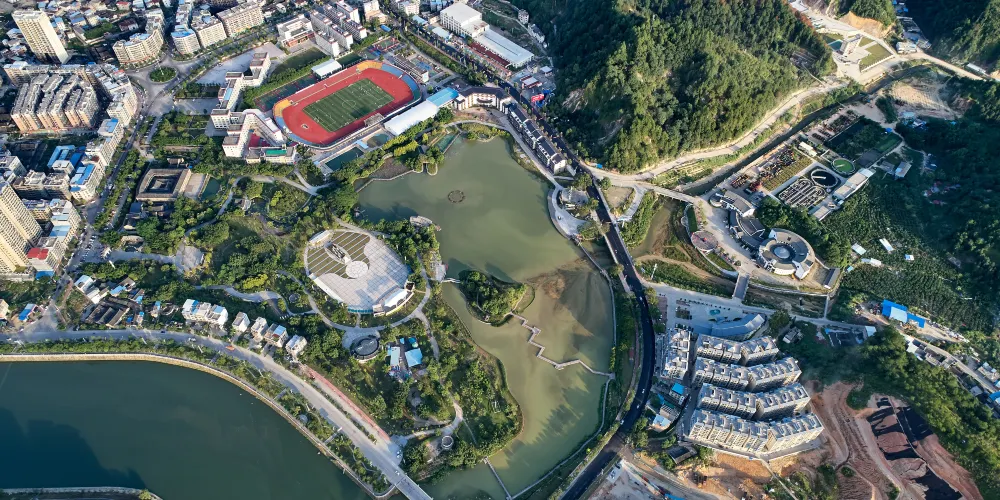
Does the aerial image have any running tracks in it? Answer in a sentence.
Yes, the picture does show a running track.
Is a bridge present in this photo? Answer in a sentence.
Yes, you can see a bridge in this photo.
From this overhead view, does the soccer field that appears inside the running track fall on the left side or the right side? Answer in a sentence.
The soccer field that appears inside the running track appears in the left half of the scene.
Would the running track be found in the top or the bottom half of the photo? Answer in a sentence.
The running track is in the top half of the image.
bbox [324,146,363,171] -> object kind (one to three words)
swimming pool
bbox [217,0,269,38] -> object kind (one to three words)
building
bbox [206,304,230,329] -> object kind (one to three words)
house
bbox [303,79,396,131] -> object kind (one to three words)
soccer field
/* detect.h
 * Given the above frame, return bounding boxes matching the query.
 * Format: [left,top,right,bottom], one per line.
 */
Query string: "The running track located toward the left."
[271,57,420,152]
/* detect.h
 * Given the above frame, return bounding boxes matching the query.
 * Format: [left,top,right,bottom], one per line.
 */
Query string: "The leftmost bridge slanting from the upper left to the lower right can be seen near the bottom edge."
[389,460,447,500]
